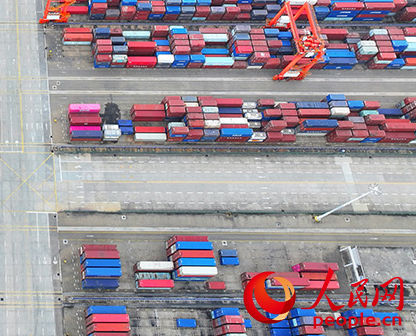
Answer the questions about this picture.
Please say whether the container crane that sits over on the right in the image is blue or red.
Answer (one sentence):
The color of the container crane that sits over on the right is red.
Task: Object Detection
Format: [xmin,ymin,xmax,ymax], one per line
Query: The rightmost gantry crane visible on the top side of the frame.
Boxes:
[262,0,329,77]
